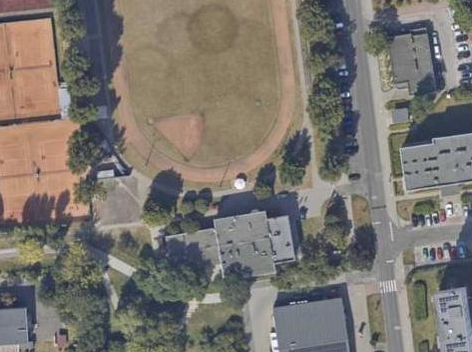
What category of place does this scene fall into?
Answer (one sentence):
This looks like a sports ground.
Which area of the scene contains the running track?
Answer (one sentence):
The running track appears toward the top of the photo.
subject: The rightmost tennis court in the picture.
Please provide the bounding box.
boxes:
[34,121,88,217]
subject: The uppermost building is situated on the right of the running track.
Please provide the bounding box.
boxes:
[391,28,436,94]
